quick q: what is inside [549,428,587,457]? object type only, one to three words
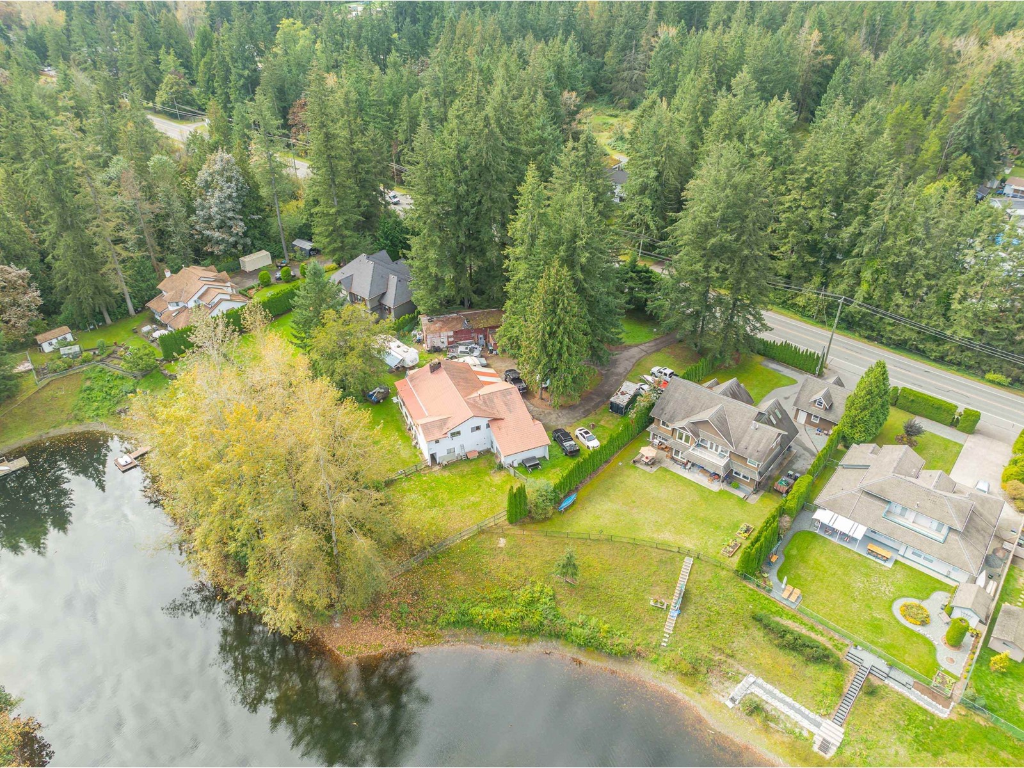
truck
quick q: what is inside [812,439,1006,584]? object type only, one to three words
house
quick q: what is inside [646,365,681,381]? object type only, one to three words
car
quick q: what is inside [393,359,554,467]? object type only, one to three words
house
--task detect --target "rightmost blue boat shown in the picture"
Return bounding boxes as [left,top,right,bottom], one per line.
[558,494,578,514]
